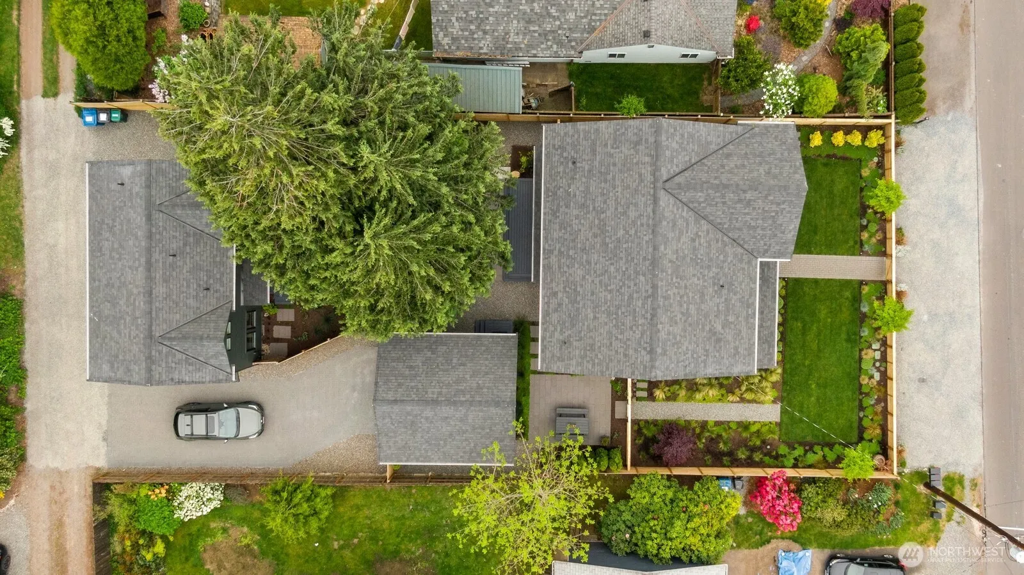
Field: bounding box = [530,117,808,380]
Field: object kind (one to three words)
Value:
house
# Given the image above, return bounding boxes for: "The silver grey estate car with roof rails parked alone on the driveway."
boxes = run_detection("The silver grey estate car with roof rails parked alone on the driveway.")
[175,400,266,443]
